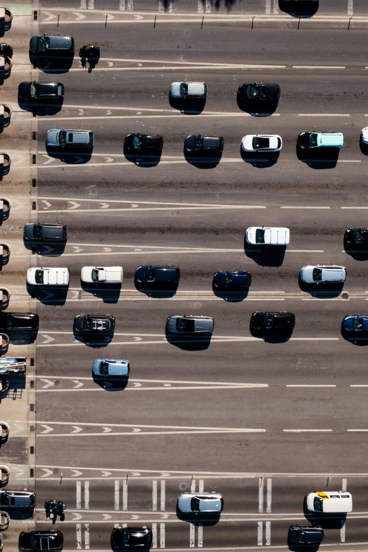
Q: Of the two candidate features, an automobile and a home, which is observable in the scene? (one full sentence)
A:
I can see an automobile in this picture.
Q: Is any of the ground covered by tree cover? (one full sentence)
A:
No, tree cover can't be seen anywhere here.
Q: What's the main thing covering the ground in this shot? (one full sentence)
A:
The bulk of the photo consists of paved ground.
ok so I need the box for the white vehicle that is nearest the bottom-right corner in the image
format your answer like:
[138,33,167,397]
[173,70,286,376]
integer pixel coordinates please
[305,491,353,516]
